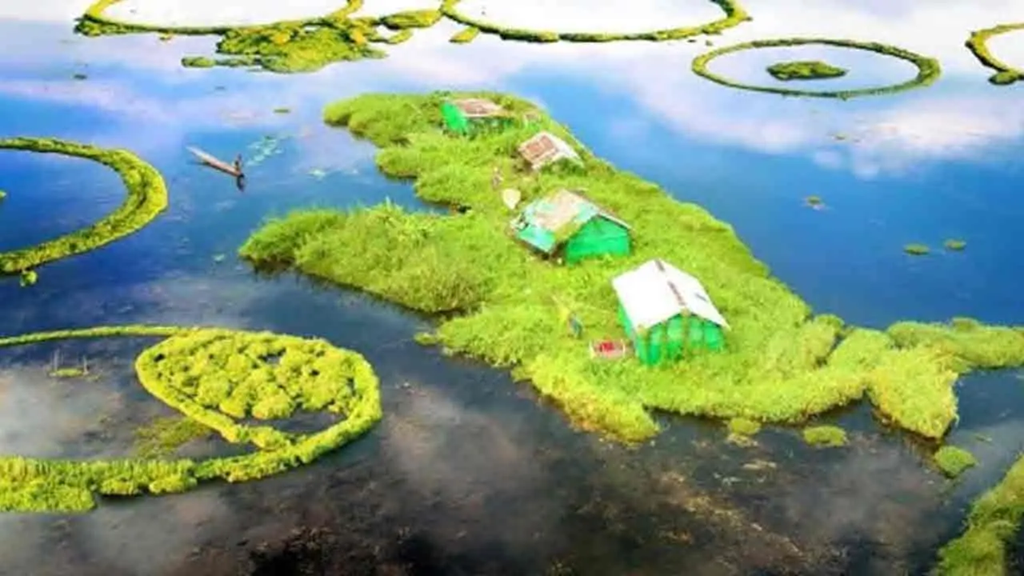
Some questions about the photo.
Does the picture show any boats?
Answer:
Yes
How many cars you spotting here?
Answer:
0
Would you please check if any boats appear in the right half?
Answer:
No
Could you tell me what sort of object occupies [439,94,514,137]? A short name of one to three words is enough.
shed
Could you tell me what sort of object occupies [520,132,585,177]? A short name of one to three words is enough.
shed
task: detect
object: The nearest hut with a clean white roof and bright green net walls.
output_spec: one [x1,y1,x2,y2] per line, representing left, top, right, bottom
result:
[612,262,730,362]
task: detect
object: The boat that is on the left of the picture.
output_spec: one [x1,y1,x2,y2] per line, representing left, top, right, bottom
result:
[186,141,243,175]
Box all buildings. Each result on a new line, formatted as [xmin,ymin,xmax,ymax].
[612,262,730,362]
[520,132,585,177]
[439,94,514,137]
[525,110,540,125]
[511,186,631,277]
